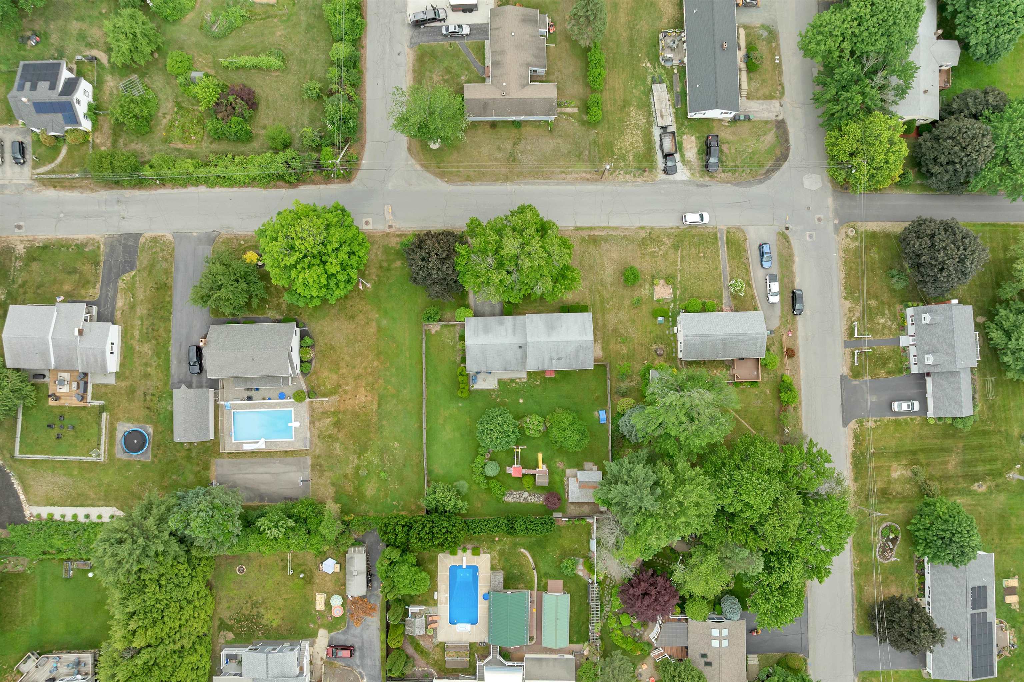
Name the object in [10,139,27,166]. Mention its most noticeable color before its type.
gray car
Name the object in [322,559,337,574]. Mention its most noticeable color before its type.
white umbrella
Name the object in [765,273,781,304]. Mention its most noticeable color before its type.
white vehicle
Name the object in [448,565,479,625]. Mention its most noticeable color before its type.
blue swimming pool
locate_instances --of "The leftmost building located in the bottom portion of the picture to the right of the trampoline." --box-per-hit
[173,384,216,443]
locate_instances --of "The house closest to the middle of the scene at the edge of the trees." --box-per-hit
[465,312,594,377]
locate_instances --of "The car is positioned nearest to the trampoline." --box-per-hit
[188,346,203,374]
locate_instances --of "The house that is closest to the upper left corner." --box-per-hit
[0,60,95,138]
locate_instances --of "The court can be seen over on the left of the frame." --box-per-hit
[216,457,310,503]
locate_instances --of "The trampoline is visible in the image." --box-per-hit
[117,429,150,456]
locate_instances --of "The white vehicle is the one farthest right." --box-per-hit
[890,400,919,413]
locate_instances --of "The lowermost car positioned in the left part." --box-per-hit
[326,645,354,659]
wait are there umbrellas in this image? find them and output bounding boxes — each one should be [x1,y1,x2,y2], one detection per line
[322,559,337,574]
[330,594,343,607]
[332,605,344,618]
